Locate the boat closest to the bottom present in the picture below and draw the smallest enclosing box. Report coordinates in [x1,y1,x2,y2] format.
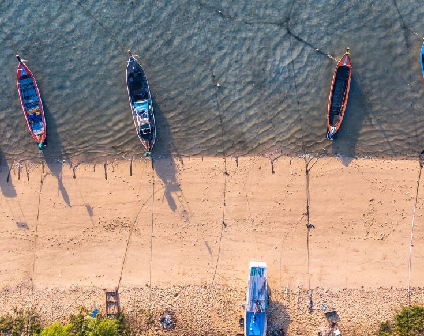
[243,261,267,336]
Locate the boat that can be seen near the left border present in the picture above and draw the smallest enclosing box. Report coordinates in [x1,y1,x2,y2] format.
[14,56,48,160]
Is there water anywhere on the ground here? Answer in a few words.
Yes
